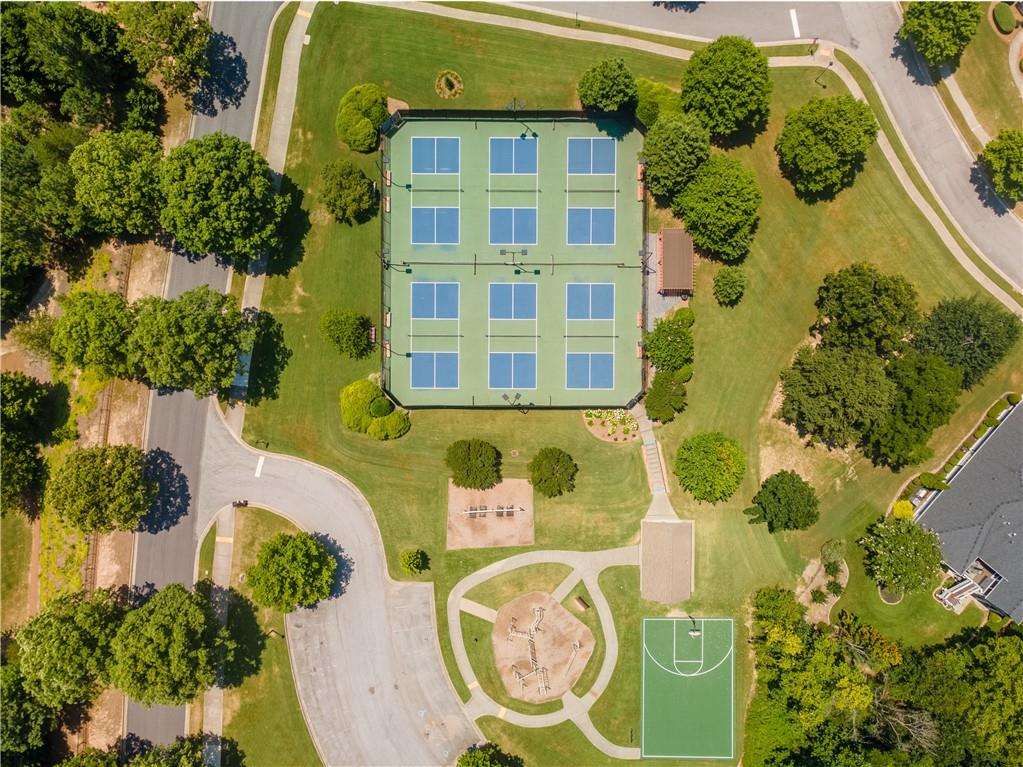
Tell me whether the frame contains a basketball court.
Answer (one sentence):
Yes, looking at the shot, I can spot a basketball court.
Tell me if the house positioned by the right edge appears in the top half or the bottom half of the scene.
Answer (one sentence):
Seen from above, the house positioned by the right edge lies in the bottom half of the view.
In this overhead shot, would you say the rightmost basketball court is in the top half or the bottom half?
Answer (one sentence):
You can find the rightmost basketball court in the bottom half.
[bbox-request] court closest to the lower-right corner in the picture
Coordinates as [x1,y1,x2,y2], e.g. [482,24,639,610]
[640,616,734,760]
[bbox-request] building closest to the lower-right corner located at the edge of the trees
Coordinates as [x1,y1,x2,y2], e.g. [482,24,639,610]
[911,387,1023,622]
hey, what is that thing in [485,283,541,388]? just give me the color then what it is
blue sports court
